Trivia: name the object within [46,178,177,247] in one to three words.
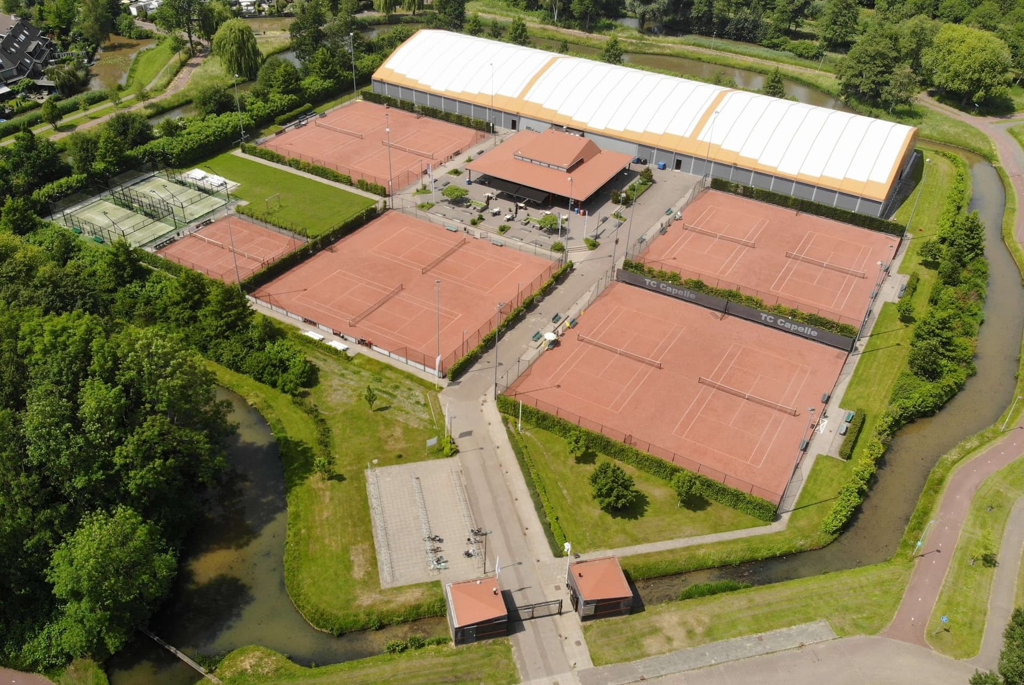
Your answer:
sports court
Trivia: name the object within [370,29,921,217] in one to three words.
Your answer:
building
